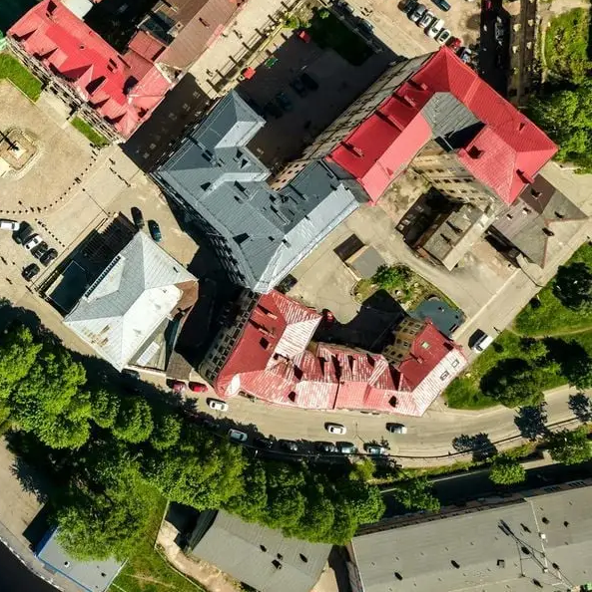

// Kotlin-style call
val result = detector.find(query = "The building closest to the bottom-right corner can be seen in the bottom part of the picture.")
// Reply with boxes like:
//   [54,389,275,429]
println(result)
[350,474,592,592]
